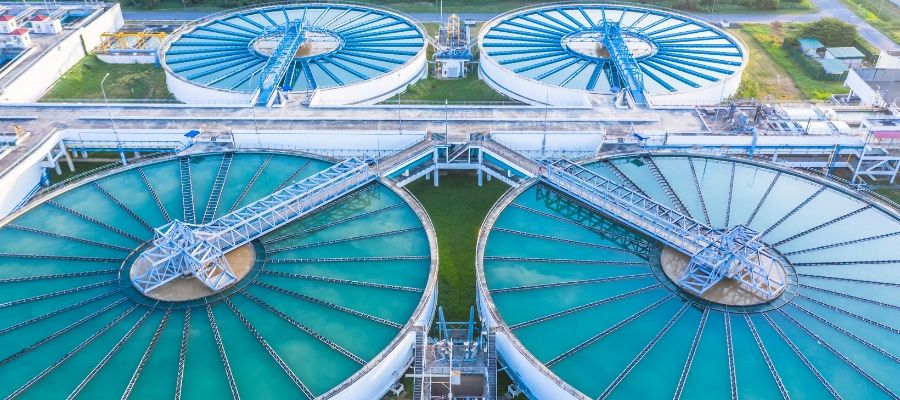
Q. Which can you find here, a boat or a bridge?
bridge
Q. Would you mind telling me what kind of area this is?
industrial area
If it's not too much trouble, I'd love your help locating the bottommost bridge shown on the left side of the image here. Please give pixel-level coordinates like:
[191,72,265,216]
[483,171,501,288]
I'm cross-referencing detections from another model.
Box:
[193,155,387,258]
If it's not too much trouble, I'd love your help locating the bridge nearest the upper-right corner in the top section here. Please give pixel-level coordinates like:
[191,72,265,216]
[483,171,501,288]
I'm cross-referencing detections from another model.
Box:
[599,16,667,102]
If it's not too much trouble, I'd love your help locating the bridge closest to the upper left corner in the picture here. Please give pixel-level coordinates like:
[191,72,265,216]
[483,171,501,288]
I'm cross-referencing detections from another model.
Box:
[238,14,309,99]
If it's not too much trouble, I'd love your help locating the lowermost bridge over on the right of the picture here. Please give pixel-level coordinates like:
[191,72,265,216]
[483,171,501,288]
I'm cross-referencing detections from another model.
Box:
[530,156,724,260]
